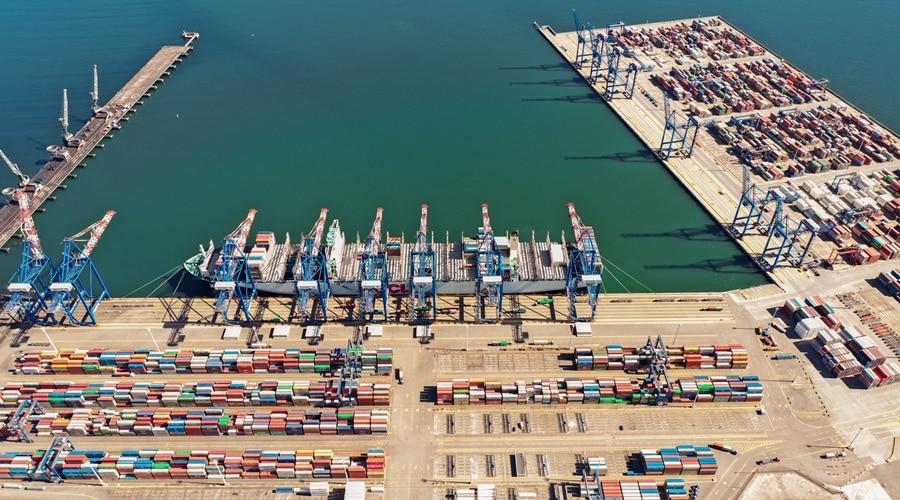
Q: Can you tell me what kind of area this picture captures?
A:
port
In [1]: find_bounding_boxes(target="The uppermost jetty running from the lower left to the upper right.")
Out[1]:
[0,34,203,251]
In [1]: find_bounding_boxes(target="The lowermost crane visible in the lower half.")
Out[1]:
[577,465,605,500]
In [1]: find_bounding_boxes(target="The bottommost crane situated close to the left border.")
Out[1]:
[34,437,78,485]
